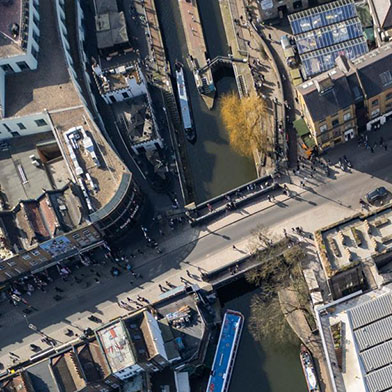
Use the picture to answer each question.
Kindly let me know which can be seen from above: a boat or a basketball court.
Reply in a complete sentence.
It is a boat that can be seen here.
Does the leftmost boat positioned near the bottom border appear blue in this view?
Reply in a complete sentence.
Yes, the leftmost boat positioned near the bottom border is indeed blue.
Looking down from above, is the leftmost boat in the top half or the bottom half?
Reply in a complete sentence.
You can find the leftmost boat in the top half.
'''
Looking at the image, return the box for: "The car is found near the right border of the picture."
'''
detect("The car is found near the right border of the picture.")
[365,184,390,201]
